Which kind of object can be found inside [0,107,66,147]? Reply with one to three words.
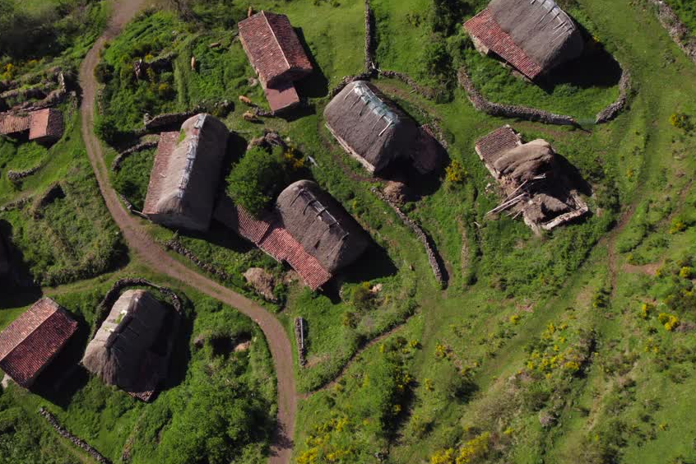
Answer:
shed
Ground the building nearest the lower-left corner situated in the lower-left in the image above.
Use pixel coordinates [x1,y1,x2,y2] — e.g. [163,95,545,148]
[0,296,79,389]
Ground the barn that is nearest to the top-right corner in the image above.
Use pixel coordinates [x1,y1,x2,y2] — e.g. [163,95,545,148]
[464,0,593,85]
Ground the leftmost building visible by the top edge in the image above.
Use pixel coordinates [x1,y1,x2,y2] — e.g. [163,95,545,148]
[237,8,314,118]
